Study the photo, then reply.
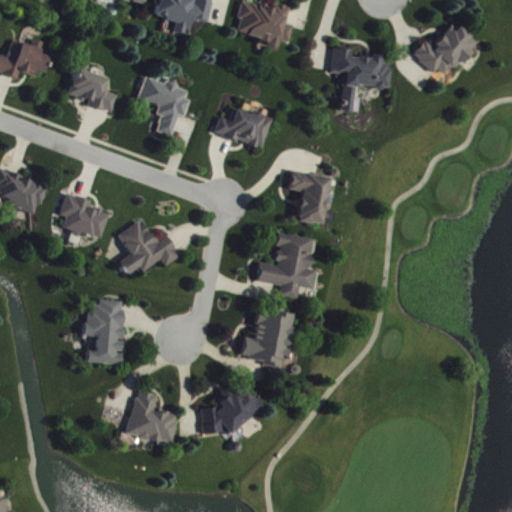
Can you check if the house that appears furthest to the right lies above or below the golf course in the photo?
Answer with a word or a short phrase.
above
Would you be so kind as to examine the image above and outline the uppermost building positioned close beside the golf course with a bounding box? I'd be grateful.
[410,24,480,74]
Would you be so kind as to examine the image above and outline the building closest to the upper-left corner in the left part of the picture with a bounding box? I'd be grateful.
[0,39,52,82]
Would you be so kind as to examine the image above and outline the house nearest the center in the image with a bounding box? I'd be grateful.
[256,233,318,296]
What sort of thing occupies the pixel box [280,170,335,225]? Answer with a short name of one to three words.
house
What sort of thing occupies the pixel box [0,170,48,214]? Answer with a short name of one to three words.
house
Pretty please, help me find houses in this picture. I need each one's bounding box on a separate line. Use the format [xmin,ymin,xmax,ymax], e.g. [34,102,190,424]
[240,314,296,368]
[212,106,272,148]
[410,24,480,74]
[116,218,179,276]
[256,233,318,296]
[126,391,180,446]
[86,297,126,364]
[326,46,394,111]
[58,192,112,239]
[195,392,262,437]
[138,75,191,133]
[0,39,52,82]
[280,170,335,225]
[0,170,48,214]
[64,68,118,112]
[237,0,293,50]
[151,0,208,33]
